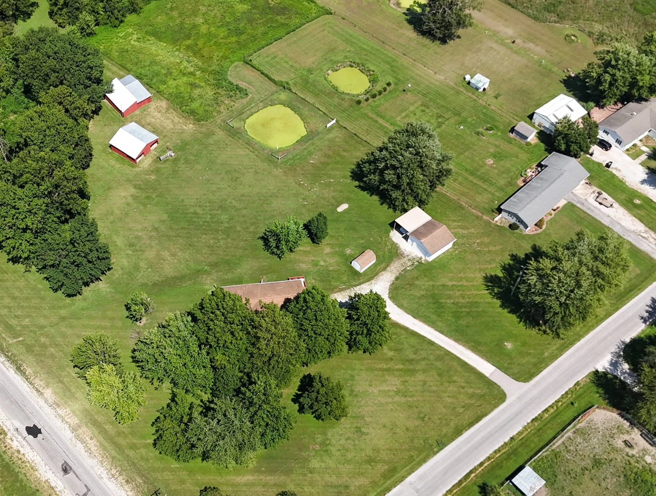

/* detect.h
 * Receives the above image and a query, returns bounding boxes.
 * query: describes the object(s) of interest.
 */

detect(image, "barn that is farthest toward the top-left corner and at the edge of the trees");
[104,78,156,118]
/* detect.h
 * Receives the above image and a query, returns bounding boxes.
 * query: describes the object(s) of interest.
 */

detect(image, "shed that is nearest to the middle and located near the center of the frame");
[350,247,377,272]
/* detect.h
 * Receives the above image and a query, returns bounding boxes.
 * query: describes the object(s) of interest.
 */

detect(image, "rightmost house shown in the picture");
[595,99,656,152]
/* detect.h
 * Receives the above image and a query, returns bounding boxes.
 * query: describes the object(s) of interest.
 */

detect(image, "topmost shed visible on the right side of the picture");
[469,77,494,96]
